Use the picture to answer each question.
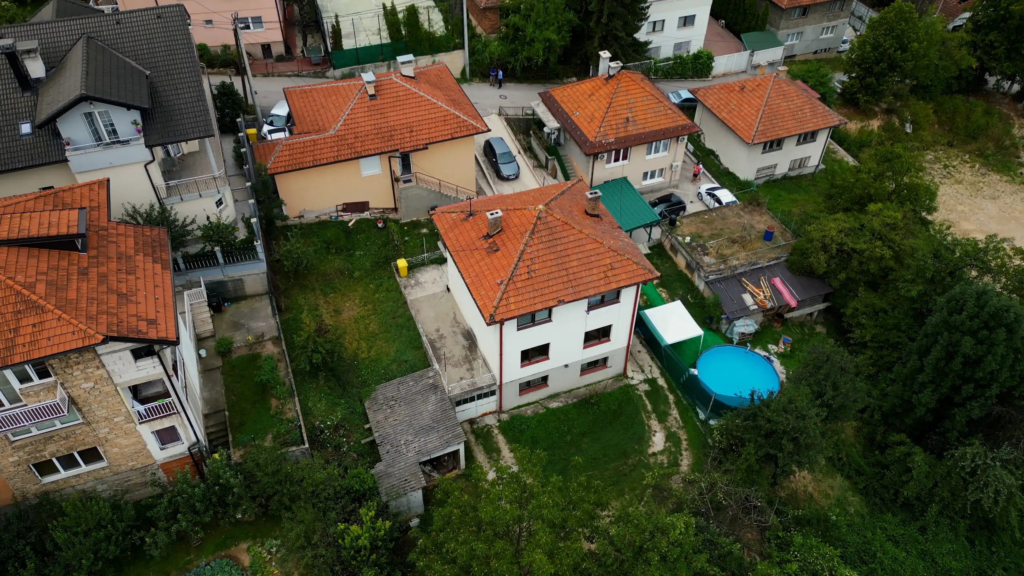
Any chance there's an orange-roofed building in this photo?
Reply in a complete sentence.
Yes, the image includes an orange-roofed building.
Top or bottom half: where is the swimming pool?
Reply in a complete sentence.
The bottom half of the photo is where the swimming pool is.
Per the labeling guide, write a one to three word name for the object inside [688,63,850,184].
house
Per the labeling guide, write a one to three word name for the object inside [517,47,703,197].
house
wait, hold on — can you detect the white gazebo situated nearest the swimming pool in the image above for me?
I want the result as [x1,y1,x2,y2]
[642,301,705,360]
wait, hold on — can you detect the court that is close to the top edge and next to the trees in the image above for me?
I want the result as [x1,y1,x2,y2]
[318,0,447,67]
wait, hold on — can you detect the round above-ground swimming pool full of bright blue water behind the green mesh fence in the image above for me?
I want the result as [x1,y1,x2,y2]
[694,341,782,425]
